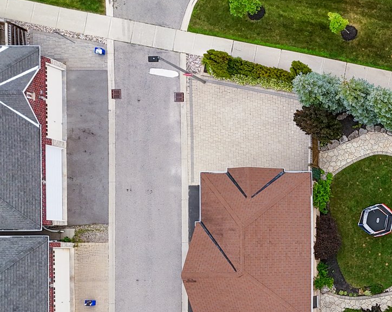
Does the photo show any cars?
No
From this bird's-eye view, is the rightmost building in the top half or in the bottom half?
bottom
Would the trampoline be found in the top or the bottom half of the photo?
bottom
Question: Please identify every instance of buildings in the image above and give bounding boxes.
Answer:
[0,235,82,312]
[0,43,85,233]
[180,167,322,312]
